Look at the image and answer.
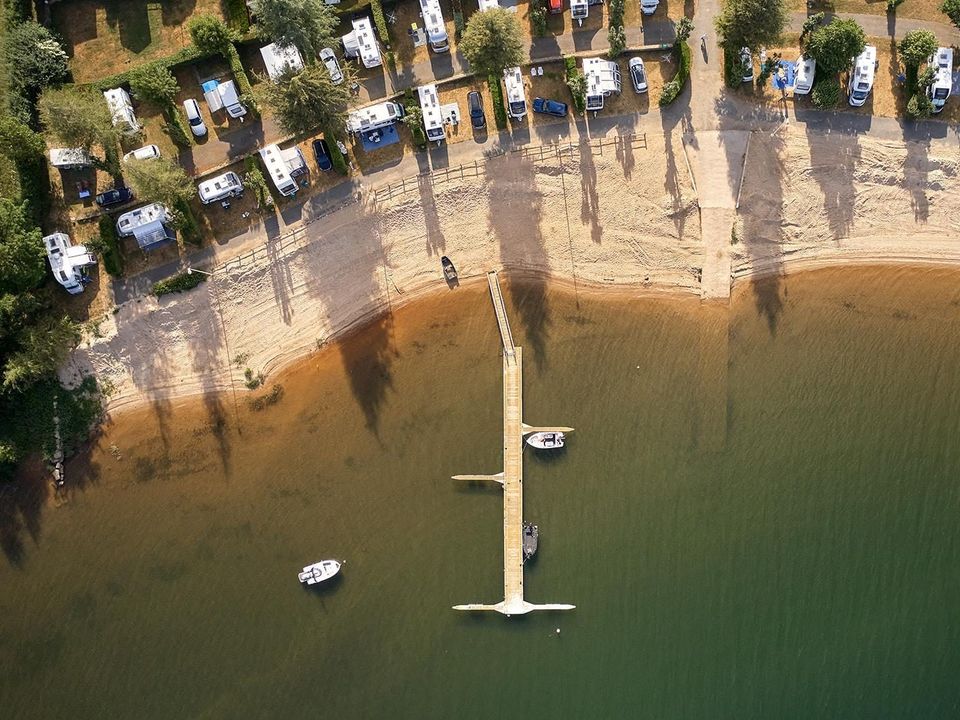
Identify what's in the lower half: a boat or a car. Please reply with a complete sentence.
What appears in the lower half is a boat.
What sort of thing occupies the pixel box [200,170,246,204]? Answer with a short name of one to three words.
camper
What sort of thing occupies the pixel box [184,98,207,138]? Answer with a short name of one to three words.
car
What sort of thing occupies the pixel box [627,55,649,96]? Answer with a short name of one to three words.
car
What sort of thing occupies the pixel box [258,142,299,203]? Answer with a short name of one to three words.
camper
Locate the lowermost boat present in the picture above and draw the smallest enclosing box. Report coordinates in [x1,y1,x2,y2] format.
[298,562,340,584]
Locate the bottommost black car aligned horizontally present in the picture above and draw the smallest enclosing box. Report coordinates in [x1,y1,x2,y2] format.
[96,188,136,210]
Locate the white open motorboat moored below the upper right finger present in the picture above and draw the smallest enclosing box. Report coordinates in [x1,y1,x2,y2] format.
[523,431,567,451]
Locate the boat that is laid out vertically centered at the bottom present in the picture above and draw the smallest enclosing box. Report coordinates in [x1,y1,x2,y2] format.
[522,522,538,564]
